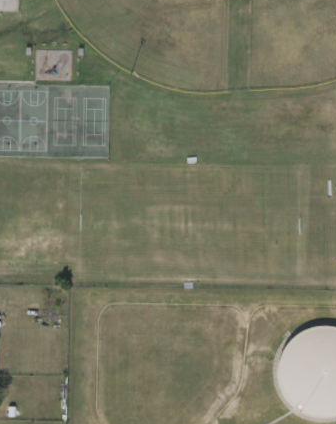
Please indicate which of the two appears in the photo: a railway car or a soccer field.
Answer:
soccer field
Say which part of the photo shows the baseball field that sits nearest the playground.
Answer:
top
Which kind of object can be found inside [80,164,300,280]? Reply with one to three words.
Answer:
soccer field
